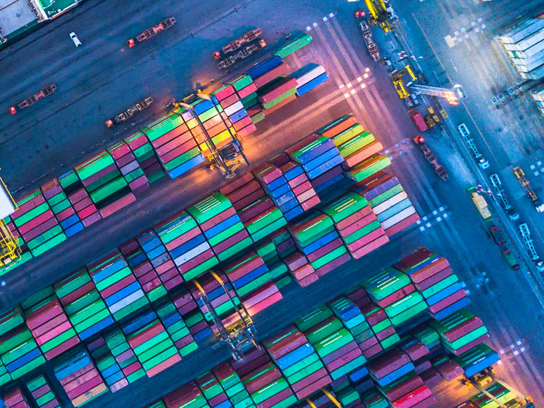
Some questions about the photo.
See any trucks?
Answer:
Yes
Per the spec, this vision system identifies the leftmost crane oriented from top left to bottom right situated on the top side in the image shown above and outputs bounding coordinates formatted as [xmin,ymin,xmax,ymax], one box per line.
[168,90,253,179]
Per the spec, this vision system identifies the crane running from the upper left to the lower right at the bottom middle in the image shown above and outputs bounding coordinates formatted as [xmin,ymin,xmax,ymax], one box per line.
[184,264,265,364]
